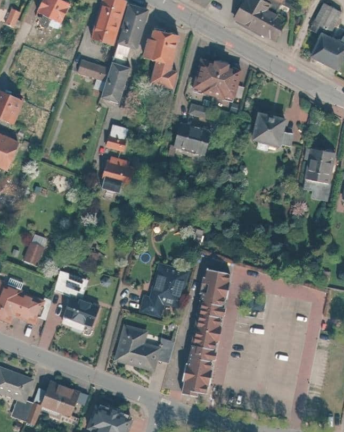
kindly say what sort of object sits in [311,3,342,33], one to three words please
house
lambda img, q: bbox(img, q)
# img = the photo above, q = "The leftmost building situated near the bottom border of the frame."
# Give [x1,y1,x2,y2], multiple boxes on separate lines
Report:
[0,366,42,425]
